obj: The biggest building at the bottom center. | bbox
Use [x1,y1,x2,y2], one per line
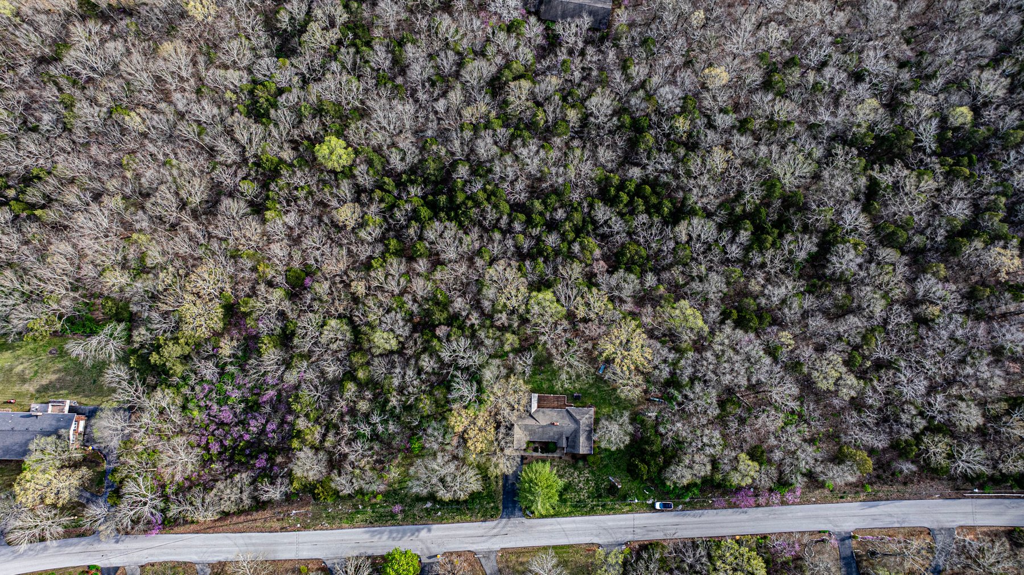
[513,393,594,457]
